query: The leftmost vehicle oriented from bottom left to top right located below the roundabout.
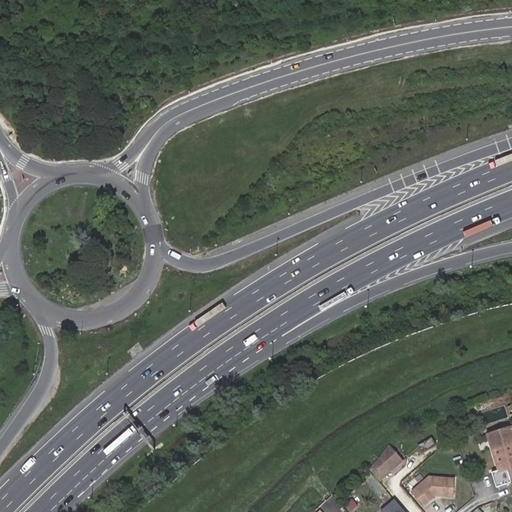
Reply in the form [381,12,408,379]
[19,456,37,474]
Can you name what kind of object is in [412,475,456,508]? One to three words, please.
house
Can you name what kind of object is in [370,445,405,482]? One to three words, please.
house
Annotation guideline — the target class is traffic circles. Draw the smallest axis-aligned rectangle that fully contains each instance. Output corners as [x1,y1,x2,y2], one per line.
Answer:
[0,164,196,332]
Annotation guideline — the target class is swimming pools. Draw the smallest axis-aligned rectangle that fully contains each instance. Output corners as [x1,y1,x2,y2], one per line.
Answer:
[480,404,510,426]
